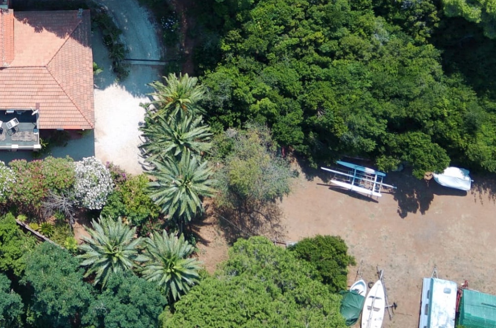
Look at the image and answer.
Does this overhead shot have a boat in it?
Yes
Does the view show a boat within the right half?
Yes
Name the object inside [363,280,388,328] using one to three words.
boat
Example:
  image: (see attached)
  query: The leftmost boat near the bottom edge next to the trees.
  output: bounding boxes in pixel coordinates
[341,279,368,327]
